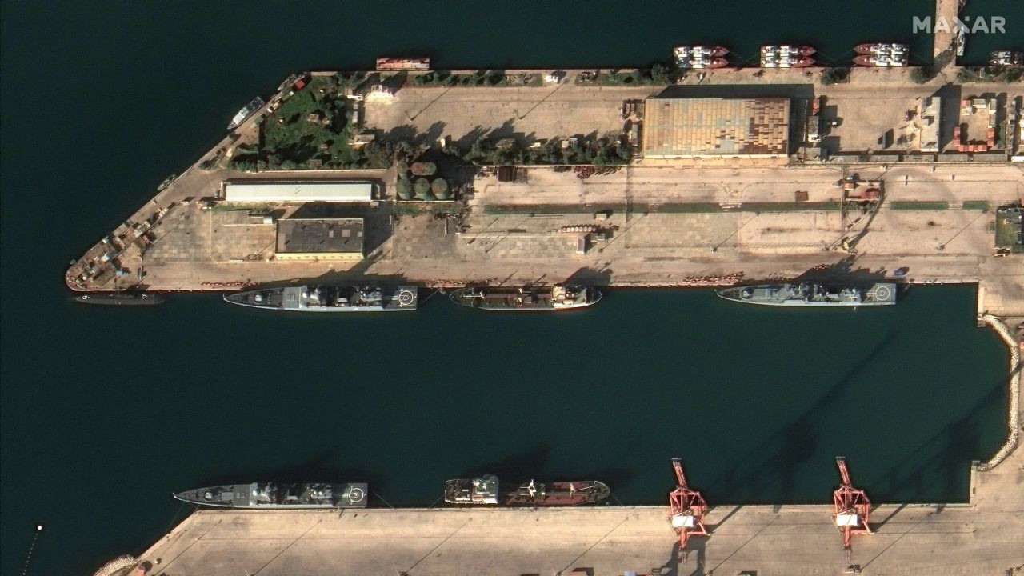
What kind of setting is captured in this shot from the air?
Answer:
port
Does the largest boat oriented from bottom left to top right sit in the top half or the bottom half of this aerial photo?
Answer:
top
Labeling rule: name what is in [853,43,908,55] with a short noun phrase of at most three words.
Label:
boat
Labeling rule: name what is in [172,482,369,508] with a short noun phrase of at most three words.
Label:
ship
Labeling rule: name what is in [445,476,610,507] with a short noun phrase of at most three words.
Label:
ship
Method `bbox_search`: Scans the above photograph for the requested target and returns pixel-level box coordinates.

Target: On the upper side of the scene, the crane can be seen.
[839,191,876,257]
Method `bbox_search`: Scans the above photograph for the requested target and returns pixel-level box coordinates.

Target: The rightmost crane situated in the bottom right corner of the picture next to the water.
[835,462,874,565]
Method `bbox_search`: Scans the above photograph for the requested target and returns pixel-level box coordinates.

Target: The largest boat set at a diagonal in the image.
[228,97,265,129]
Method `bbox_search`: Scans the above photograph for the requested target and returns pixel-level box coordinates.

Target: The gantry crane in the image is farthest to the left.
[671,463,710,566]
